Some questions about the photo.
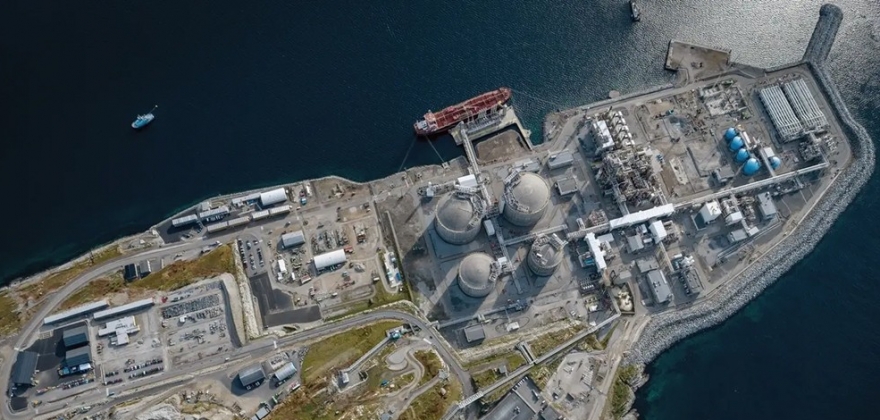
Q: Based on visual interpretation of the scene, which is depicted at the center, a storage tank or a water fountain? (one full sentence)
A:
The feature located at the center is a storage tank.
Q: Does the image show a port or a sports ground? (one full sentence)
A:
The area seen from above is a port.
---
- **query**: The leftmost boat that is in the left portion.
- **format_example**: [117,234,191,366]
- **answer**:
[131,113,155,128]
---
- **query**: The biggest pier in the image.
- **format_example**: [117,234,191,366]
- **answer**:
[449,106,531,147]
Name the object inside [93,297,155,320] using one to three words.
shed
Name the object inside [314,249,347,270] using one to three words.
building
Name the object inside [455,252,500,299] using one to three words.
storage tank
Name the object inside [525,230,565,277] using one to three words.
storage tank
